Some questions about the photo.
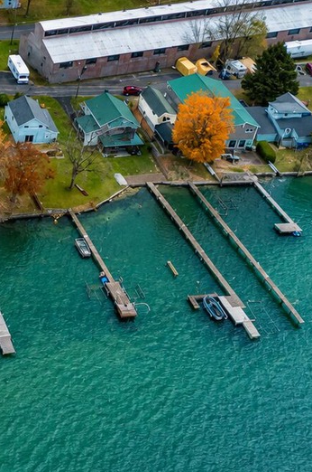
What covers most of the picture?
water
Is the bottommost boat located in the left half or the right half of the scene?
right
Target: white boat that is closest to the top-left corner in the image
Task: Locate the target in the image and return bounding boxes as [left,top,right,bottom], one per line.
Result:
[113,172,126,186]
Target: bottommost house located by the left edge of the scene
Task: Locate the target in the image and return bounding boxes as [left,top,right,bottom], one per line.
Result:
[9,96,59,142]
